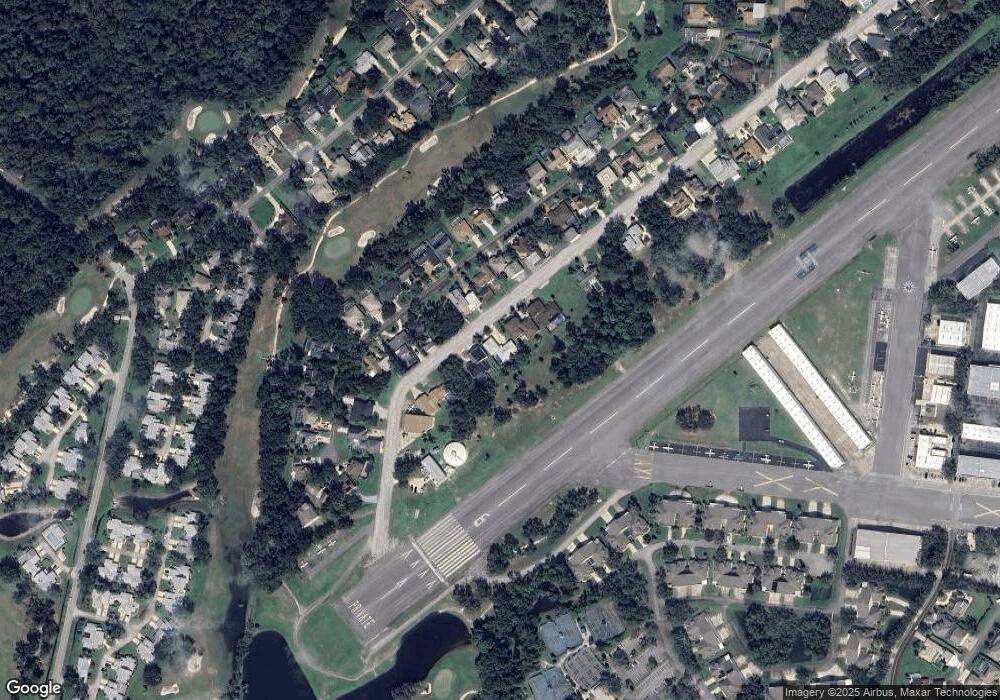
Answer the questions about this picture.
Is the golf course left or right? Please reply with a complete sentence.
You can find the golf course on the left side of the picture.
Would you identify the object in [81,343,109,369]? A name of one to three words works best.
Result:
house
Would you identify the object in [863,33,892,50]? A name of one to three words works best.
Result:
house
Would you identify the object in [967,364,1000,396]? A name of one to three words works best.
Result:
building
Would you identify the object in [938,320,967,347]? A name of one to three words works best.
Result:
hangar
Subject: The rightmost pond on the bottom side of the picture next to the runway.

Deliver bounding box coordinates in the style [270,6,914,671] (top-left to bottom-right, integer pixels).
[336,610,472,700]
